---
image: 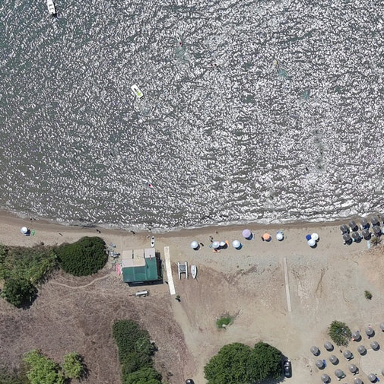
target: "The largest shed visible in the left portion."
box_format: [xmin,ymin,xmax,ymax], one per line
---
[122,248,159,282]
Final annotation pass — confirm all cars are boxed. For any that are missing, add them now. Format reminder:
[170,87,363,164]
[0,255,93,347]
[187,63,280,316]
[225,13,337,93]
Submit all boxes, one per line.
[185,377,195,384]
[284,360,292,378]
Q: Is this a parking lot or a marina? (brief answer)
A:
marina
